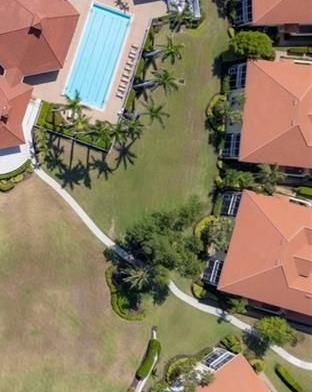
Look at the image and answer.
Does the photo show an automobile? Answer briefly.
No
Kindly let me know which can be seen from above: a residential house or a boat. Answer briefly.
residential house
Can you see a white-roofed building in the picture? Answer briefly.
No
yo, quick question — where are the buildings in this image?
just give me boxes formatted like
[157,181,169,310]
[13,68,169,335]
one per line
[225,51,312,176]
[205,187,312,322]
[0,0,80,149]
[238,0,312,36]
[171,350,275,392]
